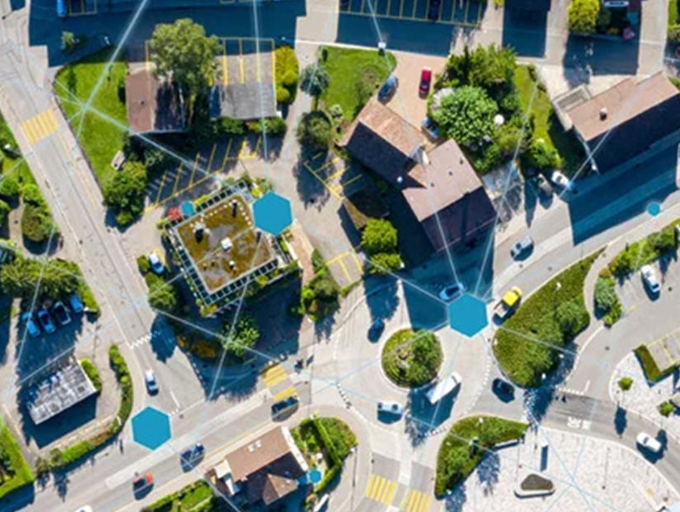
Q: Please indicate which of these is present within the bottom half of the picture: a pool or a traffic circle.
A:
traffic circle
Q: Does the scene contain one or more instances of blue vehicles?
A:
Yes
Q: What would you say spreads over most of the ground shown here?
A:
paved ground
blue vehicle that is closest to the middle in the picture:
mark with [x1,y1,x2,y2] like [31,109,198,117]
[369,320,382,340]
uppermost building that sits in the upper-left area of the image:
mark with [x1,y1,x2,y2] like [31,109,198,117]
[127,71,186,135]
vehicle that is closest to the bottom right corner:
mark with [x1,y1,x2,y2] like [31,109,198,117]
[637,434,660,451]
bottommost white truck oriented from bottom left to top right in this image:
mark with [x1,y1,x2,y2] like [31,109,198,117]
[425,371,462,405]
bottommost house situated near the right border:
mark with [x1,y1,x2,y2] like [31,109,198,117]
[551,73,680,175]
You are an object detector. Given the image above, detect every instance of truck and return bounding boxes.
[425,371,462,405]
[492,288,521,318]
